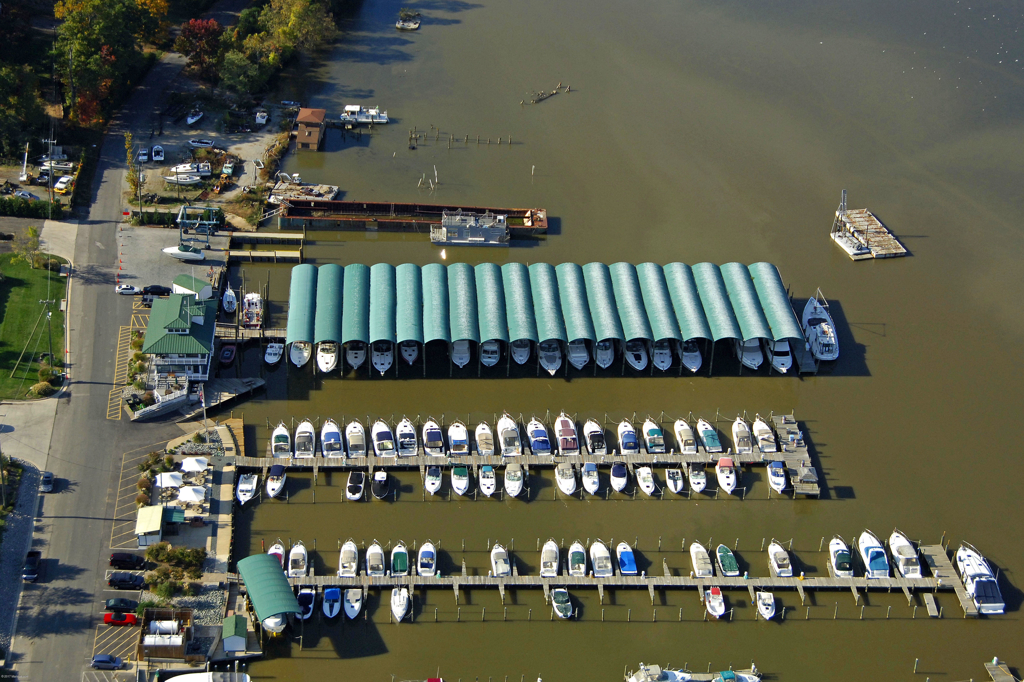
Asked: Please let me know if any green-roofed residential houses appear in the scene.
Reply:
Yes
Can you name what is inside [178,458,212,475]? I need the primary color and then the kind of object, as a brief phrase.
white tent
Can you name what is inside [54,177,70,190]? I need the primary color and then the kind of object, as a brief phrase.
white vehicle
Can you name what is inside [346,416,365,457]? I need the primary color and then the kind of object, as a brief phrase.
white boat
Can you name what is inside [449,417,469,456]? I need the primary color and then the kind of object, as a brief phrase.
white boat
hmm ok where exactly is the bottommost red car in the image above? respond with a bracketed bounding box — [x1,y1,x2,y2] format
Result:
[103,613,138,628]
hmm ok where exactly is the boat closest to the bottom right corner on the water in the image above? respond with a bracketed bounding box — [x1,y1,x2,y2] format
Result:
[957,537,1005,614]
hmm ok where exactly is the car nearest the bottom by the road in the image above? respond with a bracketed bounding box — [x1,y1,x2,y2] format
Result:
[90,656,124,672]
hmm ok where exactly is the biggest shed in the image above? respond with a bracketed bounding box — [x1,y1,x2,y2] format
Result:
[286,261,807,378]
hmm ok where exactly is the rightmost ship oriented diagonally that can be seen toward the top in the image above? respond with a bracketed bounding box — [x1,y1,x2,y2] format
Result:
[836,209,906,260]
